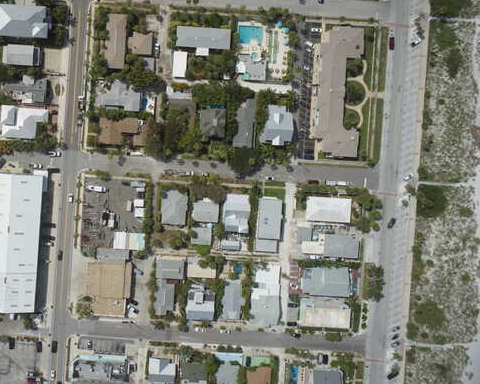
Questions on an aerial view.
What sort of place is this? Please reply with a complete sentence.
This image shows a residential area.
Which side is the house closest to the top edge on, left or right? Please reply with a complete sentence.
The house closest to the top edge is on the left side of the image.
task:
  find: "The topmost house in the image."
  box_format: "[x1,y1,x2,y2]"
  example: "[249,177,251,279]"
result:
[0,4,47,40]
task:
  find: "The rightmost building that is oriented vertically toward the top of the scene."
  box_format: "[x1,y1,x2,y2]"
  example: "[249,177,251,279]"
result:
[308,25,365,159]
